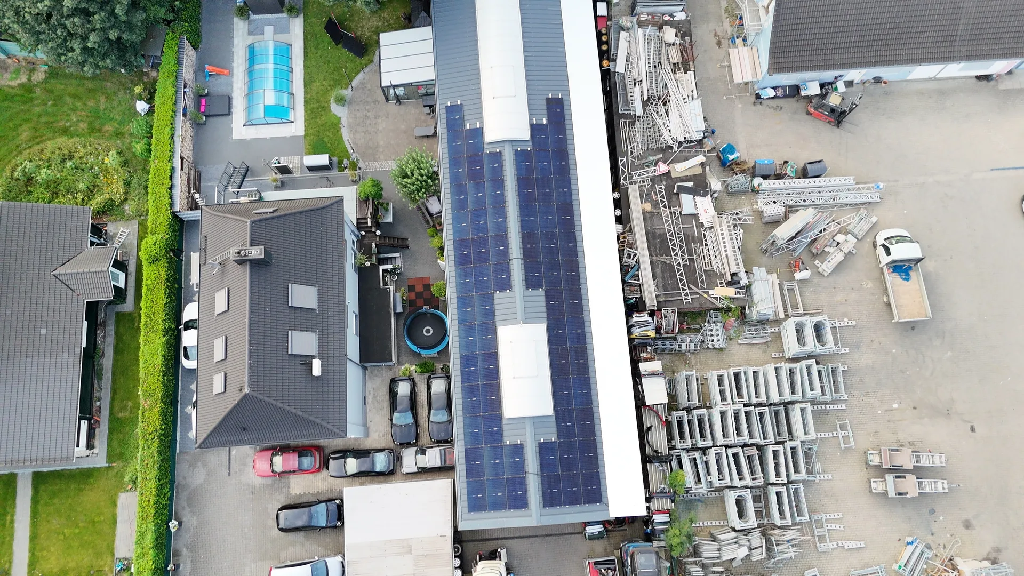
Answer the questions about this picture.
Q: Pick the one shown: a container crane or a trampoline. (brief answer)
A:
trampoline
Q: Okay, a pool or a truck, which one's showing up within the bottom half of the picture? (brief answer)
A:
truck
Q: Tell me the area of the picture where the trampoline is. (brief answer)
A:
center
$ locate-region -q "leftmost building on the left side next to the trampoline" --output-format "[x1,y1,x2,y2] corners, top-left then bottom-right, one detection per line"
[194,183,398,451]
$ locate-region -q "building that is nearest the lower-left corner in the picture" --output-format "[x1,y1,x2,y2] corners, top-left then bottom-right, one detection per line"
[0,199,136,471]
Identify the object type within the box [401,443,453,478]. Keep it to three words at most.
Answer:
car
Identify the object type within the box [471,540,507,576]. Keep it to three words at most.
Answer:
van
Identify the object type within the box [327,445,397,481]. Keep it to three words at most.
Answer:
car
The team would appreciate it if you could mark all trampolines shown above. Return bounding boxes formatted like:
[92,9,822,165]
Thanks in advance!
[403,310,446,361]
